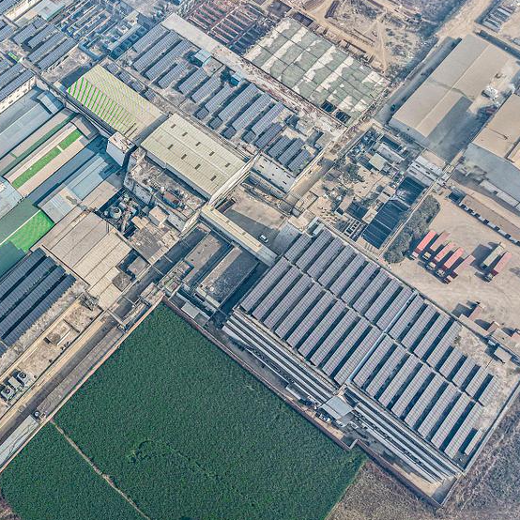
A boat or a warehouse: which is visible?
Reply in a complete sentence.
I can see a warehouse in this picture.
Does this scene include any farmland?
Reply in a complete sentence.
Yes, some farmland is visible.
